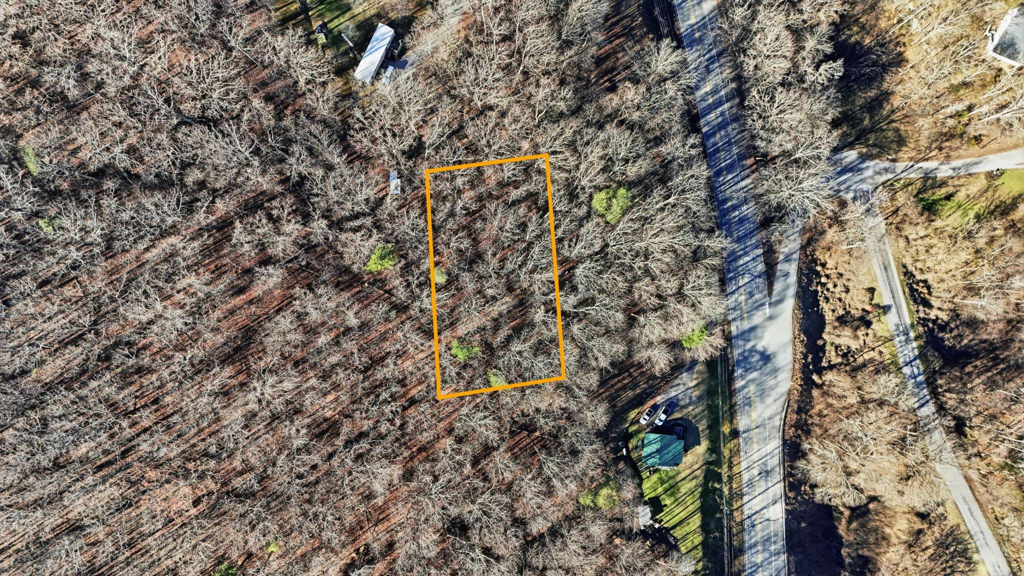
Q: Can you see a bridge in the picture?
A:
No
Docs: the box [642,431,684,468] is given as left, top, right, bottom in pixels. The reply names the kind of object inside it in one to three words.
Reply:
building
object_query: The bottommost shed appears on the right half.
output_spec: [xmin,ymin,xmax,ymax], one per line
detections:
[637,503,653,529]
